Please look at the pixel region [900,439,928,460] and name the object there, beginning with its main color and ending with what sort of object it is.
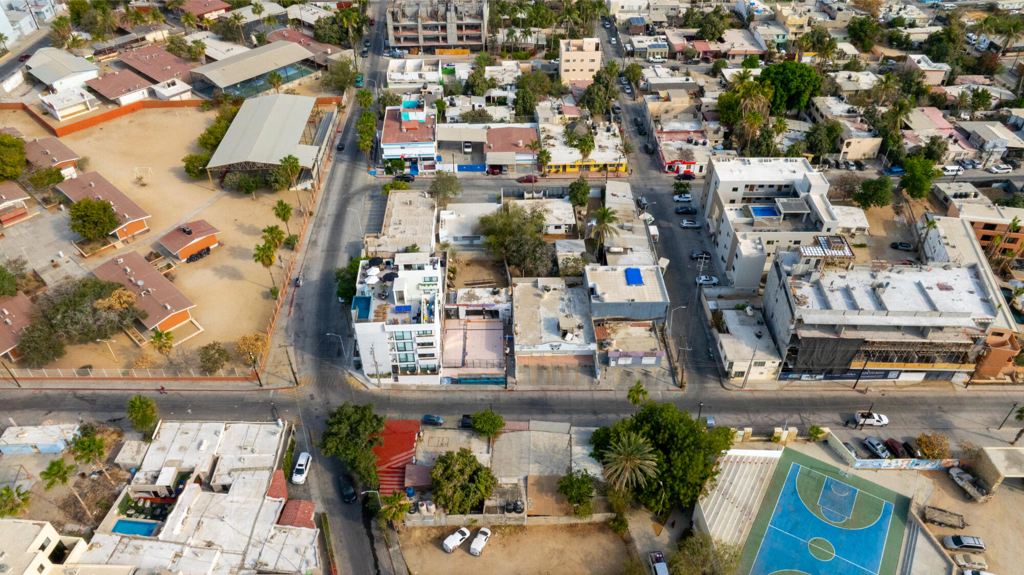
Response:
black car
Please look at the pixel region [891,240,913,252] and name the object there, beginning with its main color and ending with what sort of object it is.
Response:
black vehicle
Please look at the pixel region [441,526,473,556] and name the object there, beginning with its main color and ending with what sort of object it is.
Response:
white truck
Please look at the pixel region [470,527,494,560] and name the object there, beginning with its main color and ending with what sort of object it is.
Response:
white truck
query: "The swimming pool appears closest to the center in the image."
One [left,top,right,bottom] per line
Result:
[354,298,370,320]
